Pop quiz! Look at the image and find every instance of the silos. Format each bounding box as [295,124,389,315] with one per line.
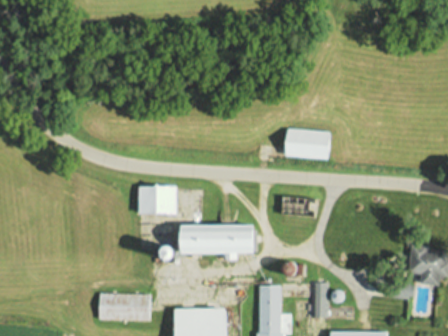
[284,262,308,277]
[158,245,175,262]
[332,290,346,304]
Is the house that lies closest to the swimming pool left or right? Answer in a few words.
right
